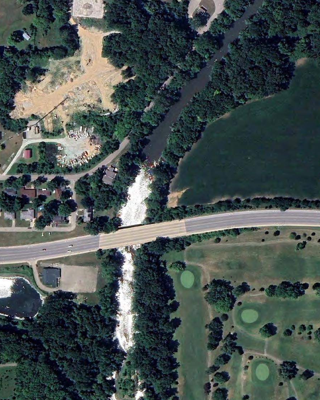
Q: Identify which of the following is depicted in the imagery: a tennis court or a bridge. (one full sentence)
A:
I can see a bridge in this picture.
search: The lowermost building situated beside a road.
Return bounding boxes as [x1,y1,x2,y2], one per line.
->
[42,267,61,287]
